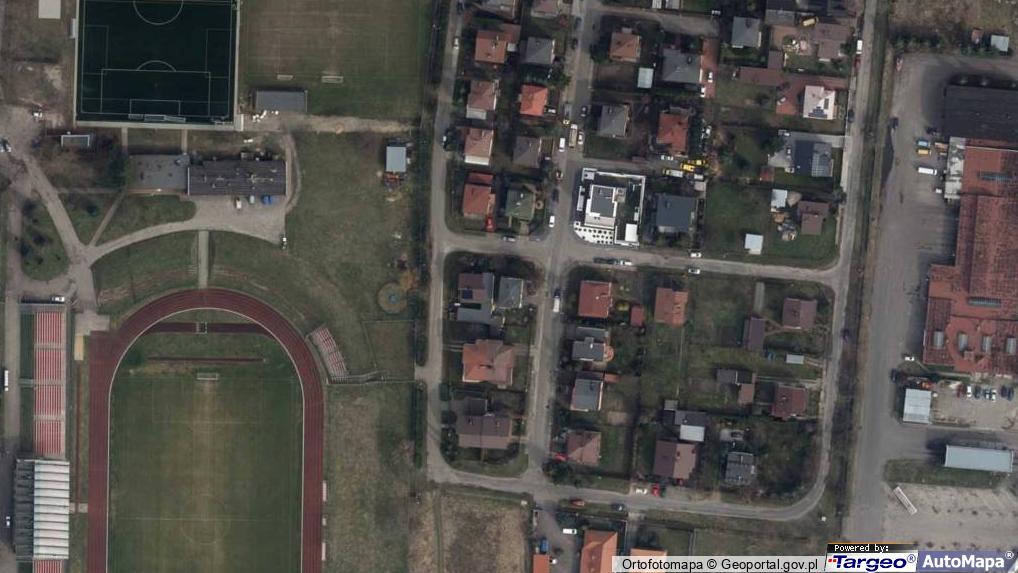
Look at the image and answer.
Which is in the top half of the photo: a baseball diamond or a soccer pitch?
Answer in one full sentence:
The one visible in the top half of the photo is a soccer pitch.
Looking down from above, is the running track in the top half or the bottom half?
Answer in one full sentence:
The bottom half of the photo is where the running track is.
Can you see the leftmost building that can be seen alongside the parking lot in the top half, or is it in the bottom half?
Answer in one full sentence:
The bottom half of the photo is where the leftmost building that can be seen alongside the parking lot is.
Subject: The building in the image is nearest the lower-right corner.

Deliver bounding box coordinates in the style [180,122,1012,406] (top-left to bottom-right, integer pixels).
[946,446,1015,472]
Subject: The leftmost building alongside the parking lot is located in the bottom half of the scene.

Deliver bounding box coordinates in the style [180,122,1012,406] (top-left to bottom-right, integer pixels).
[905,388,933,425]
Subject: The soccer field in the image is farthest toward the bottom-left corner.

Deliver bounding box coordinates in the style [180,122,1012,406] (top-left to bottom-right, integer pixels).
[108,309,300,573]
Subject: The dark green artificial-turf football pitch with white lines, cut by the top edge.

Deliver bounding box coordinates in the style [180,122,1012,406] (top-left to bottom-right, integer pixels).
[77,0,237,122]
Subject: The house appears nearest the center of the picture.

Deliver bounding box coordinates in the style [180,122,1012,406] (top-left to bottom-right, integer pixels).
[497,278,525,308]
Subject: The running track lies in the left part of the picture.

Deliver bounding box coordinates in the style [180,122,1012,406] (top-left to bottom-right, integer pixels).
[77,287,323,573]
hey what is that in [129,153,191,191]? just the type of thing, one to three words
building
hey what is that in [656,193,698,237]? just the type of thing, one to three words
house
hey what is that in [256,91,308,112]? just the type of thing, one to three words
shed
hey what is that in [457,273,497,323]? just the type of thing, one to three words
house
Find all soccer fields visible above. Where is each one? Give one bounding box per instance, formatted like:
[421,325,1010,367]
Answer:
[247,0,417,79]
[108,309,300,573]
[77,0,237,122]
